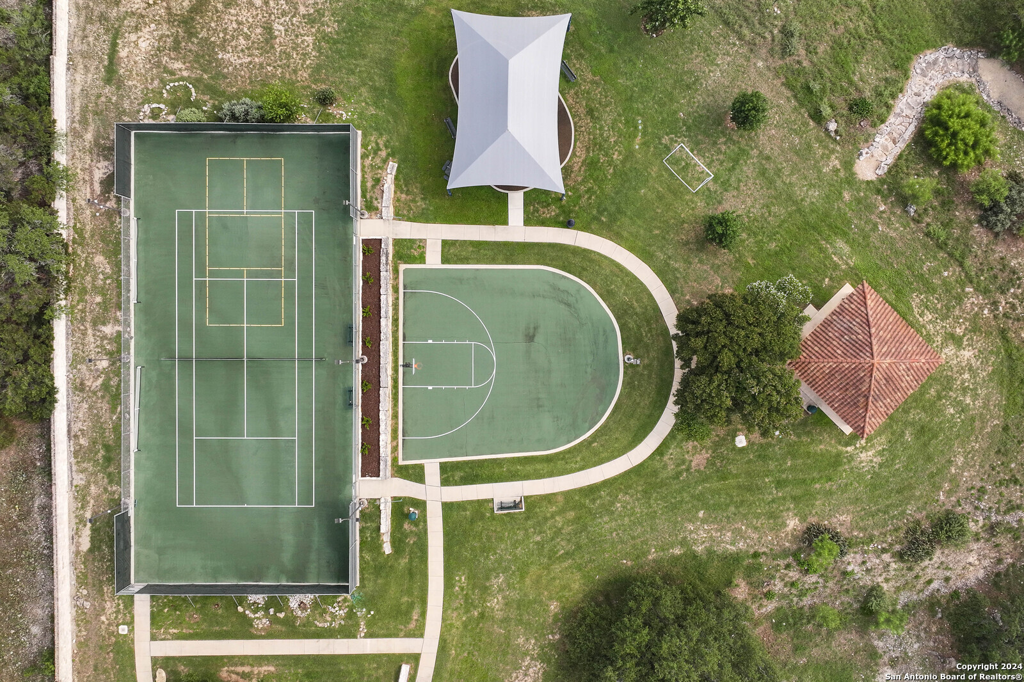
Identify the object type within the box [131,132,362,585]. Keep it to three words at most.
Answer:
tennis court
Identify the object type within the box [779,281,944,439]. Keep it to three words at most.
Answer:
building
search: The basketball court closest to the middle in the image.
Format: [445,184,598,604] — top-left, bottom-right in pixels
[400,265,623,465]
